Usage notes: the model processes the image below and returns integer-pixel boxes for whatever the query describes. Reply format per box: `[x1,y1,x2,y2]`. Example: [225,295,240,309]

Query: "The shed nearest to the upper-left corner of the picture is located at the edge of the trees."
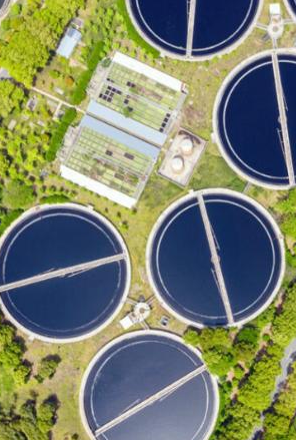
[56,23,90,61]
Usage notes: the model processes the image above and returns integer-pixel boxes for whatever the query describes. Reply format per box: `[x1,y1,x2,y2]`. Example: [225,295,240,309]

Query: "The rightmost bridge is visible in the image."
[273,48,295,189]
